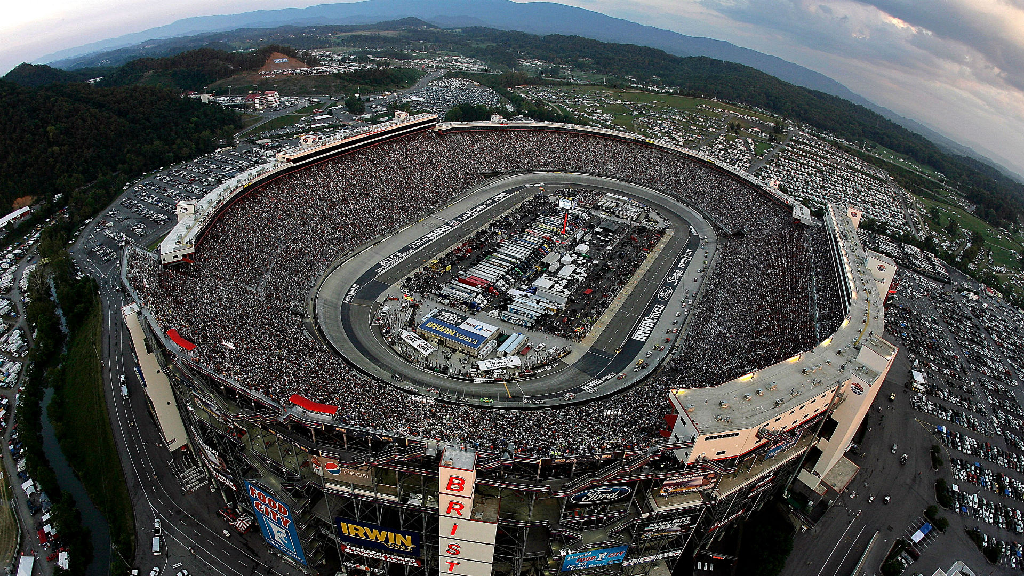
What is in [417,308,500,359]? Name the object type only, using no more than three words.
building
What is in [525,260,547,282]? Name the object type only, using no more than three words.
truck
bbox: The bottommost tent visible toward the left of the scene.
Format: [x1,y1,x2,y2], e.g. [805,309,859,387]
[16,556,37,576]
